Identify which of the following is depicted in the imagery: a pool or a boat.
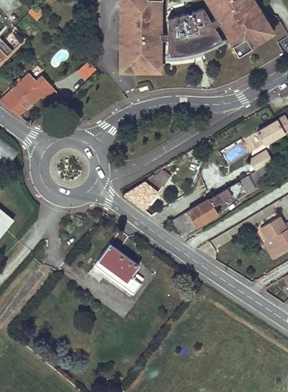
pool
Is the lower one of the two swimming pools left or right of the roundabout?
on the right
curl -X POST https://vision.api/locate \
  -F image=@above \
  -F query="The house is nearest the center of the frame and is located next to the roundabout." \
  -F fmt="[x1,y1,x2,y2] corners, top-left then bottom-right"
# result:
[124,182,164,212]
